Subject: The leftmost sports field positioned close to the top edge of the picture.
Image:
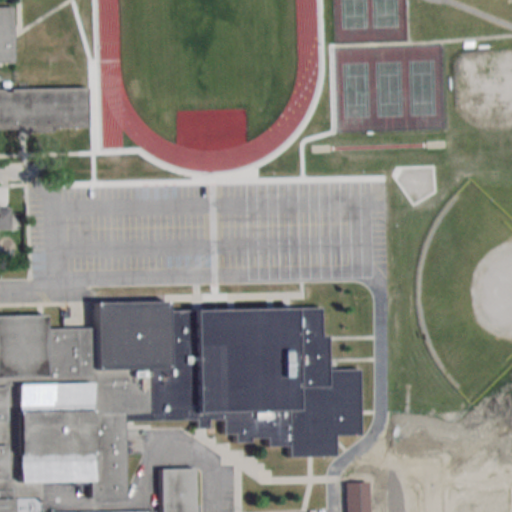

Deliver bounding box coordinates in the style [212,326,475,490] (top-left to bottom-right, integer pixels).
[120,0,297,146]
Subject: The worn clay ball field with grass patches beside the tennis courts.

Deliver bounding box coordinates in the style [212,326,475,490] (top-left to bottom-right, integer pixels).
[450,54,512,134]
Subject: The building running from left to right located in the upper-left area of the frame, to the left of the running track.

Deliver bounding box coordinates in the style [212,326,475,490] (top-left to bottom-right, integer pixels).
[0,88,90,131]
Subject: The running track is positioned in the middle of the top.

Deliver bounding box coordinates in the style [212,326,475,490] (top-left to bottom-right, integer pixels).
[100,0,317,172]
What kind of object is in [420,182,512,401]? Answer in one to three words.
baseball field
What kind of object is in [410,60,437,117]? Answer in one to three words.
tennis court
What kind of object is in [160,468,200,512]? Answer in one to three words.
building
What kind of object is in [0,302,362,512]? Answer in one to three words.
building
